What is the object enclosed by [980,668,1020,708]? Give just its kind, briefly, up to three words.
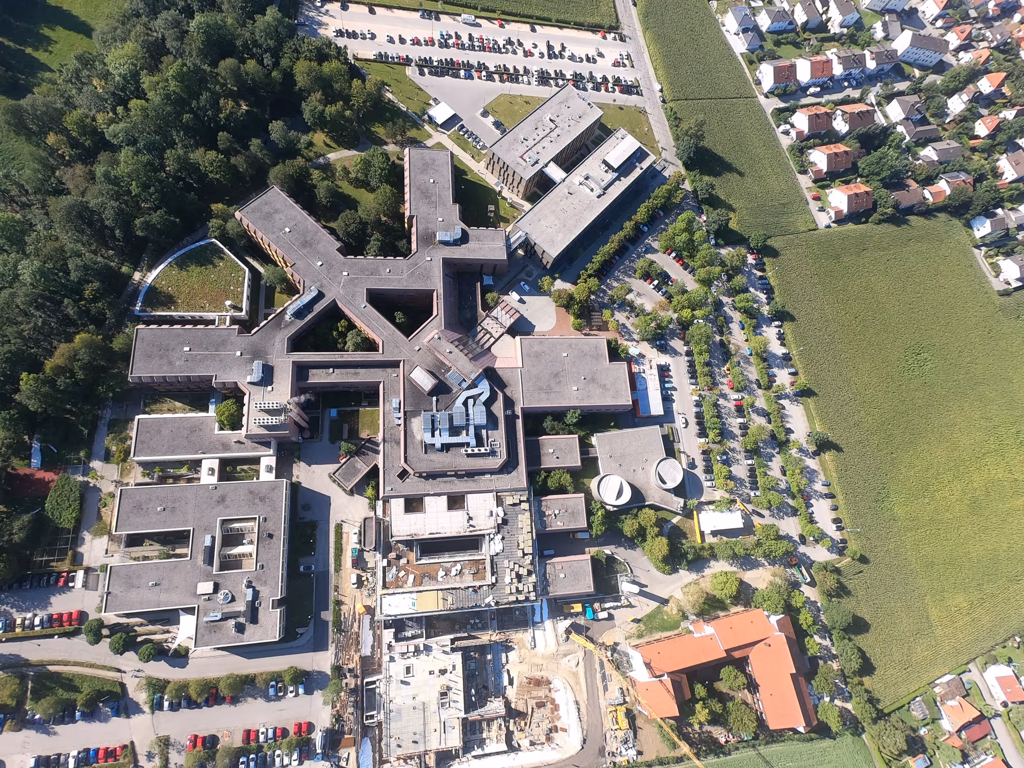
house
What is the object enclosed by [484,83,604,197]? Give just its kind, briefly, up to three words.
building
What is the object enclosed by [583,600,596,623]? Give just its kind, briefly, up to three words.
vehicle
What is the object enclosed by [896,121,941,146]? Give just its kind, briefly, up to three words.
house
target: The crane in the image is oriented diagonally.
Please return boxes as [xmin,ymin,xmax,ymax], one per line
[566,627,705,768]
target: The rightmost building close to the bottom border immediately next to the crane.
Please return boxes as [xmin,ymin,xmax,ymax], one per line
[623,608,815,730]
